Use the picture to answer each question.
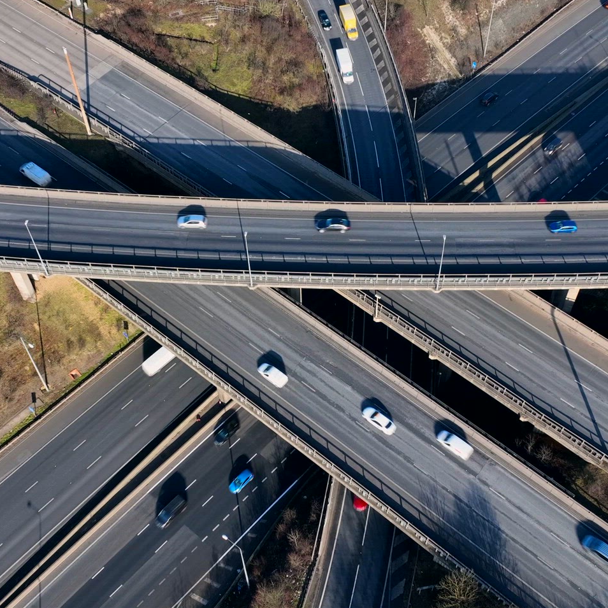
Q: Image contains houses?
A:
No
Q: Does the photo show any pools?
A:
No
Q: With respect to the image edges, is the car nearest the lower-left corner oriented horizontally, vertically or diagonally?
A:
diagonally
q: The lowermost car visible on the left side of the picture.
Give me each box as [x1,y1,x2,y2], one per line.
[155,497,188,528]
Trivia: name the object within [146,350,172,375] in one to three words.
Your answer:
vehicle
